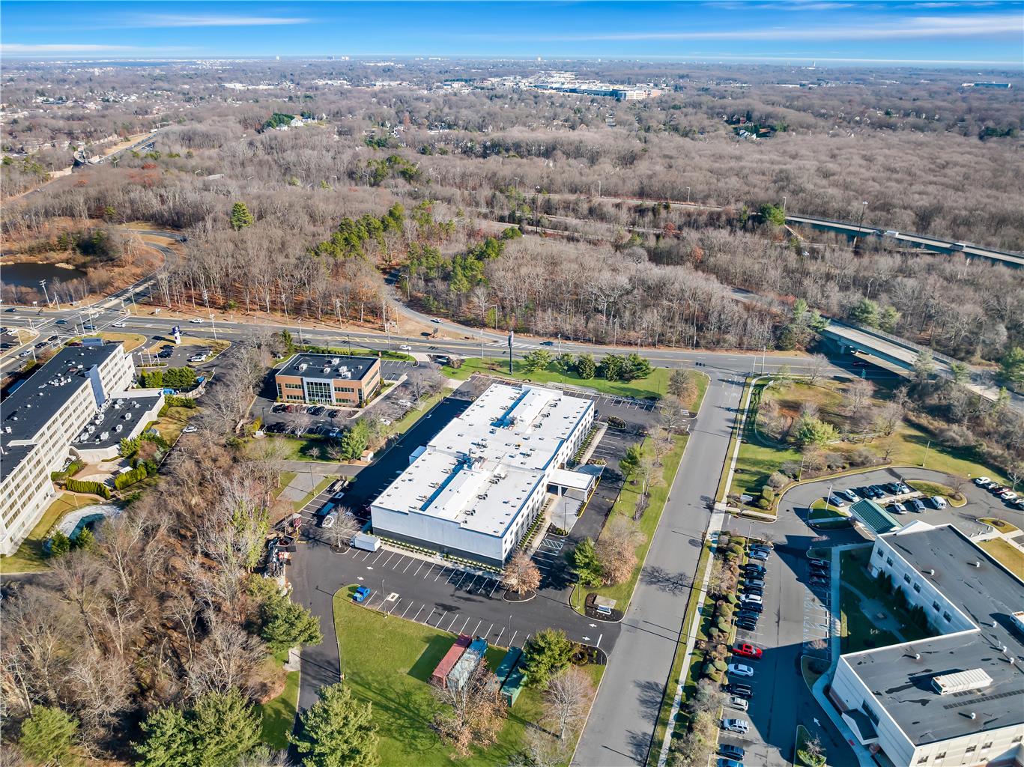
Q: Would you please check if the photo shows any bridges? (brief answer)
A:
Yes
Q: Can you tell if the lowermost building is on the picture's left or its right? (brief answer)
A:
right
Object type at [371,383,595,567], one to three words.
building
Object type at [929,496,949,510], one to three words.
vehicle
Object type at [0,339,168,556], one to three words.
building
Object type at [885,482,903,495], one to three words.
vehicle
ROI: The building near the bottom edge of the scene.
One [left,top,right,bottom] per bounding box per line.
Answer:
[831,512,1024,767]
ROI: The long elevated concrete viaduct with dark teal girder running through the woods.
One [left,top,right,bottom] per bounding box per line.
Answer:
[781,215,1024,271]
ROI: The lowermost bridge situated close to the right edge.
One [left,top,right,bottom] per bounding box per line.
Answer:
[815,316,973,380]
